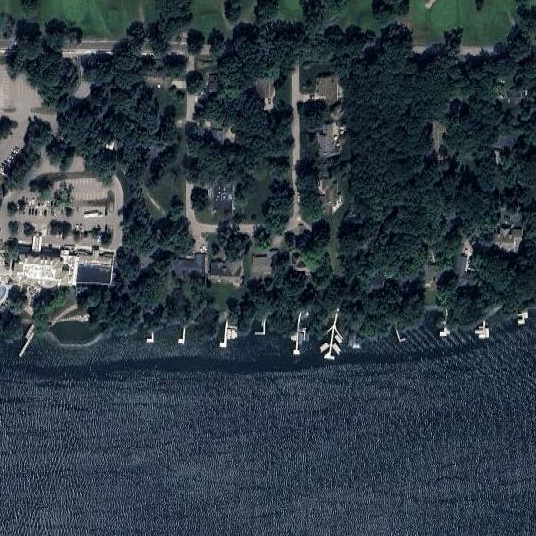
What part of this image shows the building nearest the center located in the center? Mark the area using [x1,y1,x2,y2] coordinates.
[253,256,272,275]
